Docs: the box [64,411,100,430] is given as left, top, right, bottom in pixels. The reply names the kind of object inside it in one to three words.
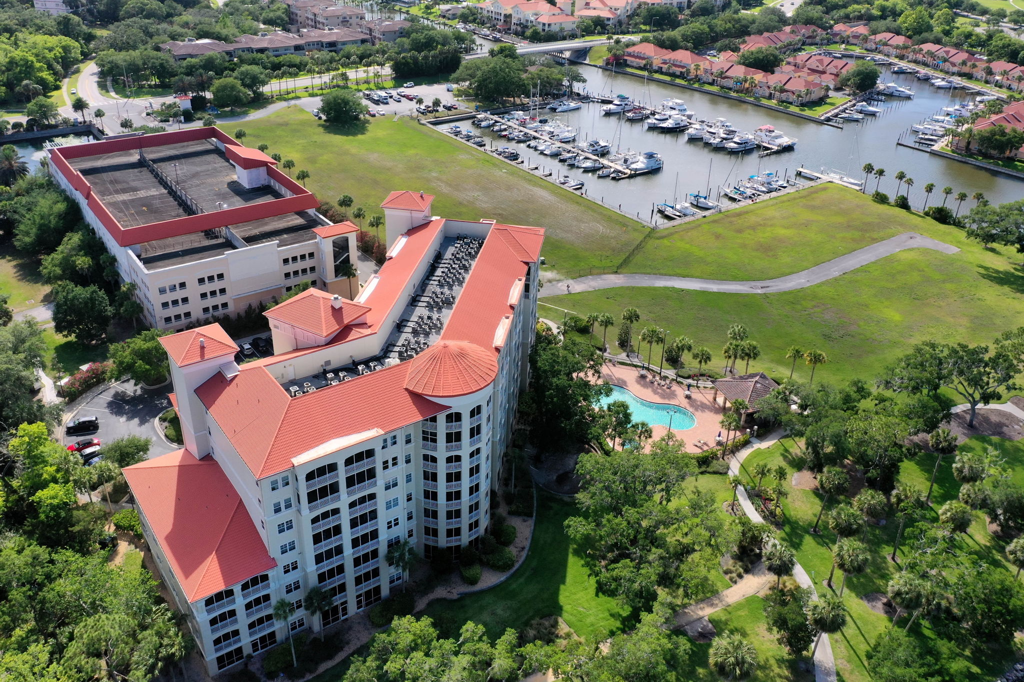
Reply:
car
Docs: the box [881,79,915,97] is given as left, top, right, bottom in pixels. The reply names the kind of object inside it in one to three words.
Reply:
boat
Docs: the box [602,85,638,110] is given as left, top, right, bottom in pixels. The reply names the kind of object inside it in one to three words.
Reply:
boat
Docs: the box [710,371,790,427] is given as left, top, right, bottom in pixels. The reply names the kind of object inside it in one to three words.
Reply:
building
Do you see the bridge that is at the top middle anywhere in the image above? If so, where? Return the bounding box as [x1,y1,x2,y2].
[461,36,667,66]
